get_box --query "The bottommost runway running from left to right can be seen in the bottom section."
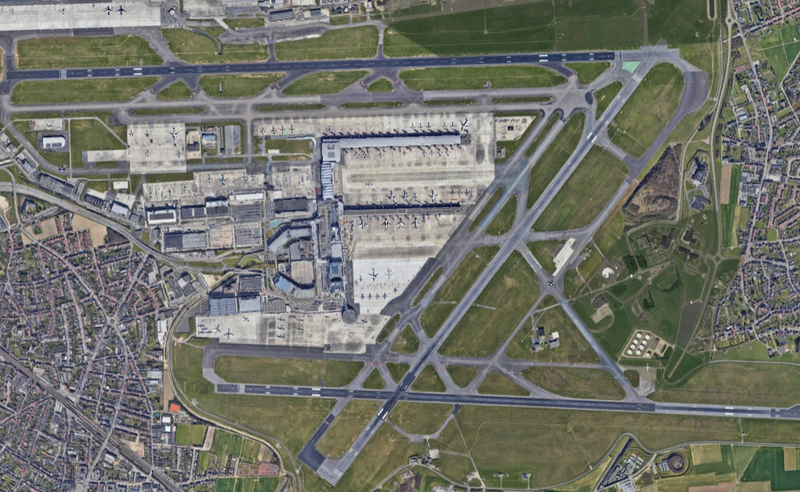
[216,383,800,418]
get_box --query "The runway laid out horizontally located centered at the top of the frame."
[7,48,679,80]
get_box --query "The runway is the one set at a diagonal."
[330,55,655,480]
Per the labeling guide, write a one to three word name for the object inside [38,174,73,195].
building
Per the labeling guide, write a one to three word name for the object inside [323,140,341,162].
building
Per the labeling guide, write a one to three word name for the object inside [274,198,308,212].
hangar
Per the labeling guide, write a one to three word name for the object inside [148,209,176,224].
hangar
